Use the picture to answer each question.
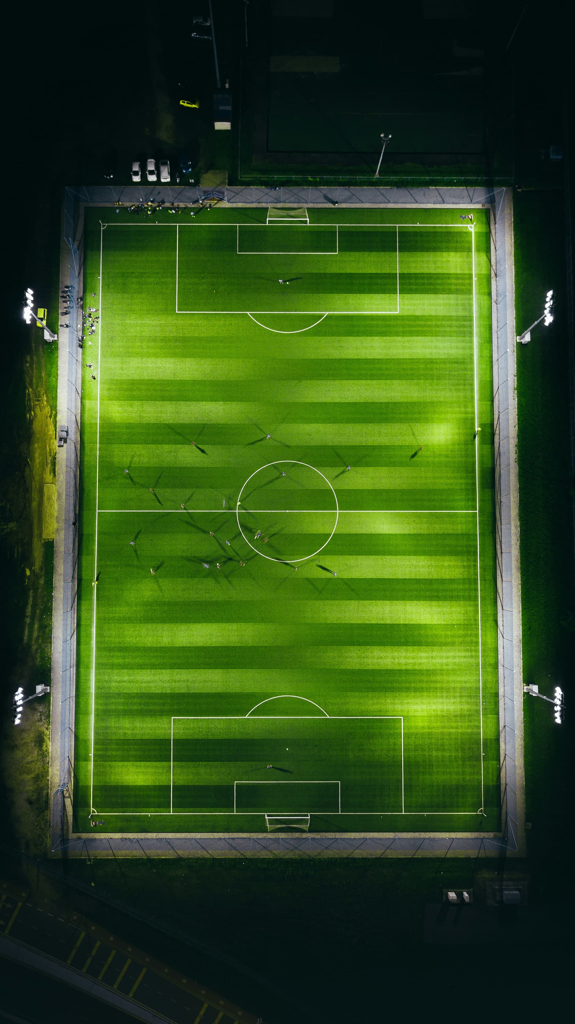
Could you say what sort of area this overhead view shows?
sports ground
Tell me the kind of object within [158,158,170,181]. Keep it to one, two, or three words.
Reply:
vehicle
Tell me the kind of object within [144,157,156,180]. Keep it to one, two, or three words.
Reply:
vehicle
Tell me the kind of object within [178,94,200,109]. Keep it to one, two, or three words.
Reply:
car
